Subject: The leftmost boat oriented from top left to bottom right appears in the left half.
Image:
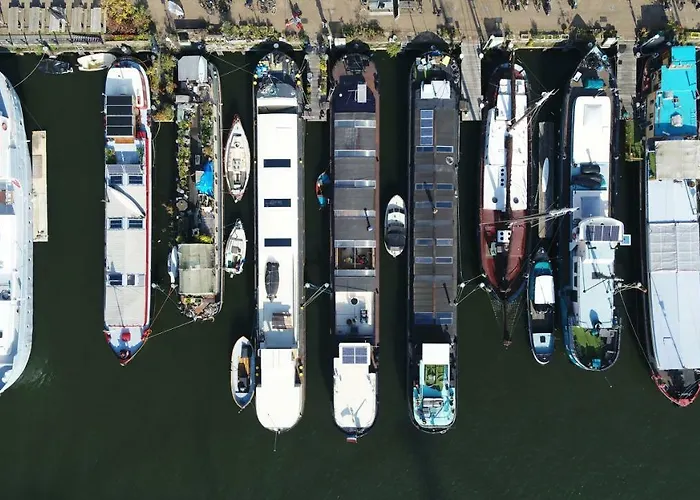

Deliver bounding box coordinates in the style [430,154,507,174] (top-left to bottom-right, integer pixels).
[107,186,144,220]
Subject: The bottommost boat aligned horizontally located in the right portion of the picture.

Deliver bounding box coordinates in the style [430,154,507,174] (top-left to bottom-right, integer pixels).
[570,172,608,187]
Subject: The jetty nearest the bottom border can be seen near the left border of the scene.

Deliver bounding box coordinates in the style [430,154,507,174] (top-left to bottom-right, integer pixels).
[33,131,48,242]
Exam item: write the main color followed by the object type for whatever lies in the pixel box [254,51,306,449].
white boat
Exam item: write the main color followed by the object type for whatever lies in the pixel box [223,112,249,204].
white boat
